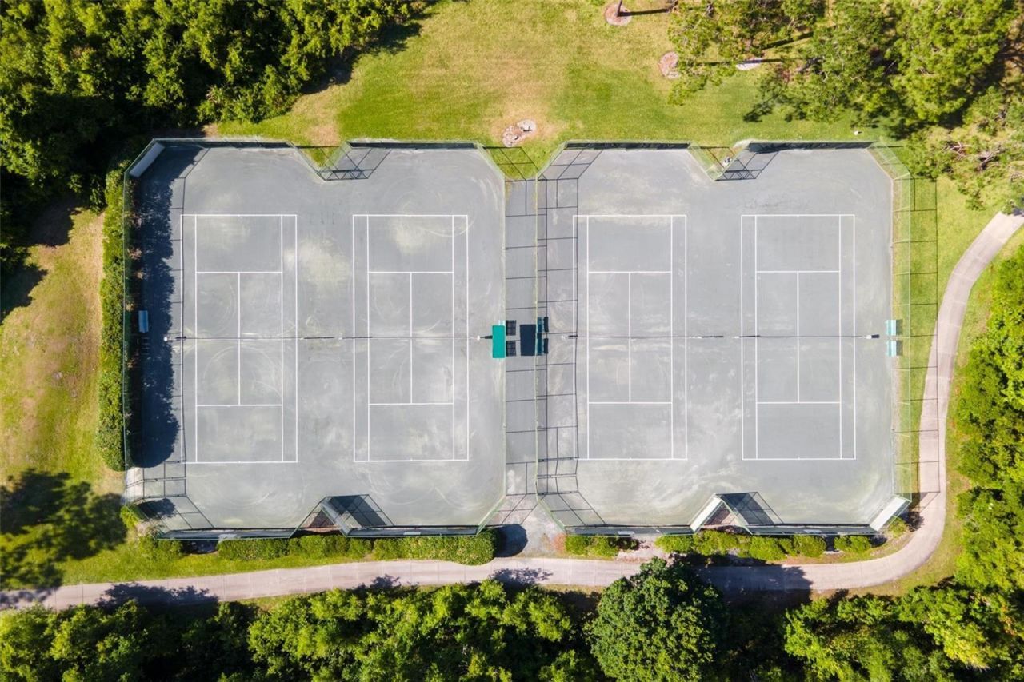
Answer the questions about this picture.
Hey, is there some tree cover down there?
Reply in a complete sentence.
Yes, some tree cover is visible.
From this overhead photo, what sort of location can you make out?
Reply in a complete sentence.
What you see here is a sports ground.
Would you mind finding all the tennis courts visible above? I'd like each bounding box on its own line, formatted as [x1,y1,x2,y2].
[325,150,505,527]
[538,150,716,526]
[715,150,894,525]
[142,148,326,530]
